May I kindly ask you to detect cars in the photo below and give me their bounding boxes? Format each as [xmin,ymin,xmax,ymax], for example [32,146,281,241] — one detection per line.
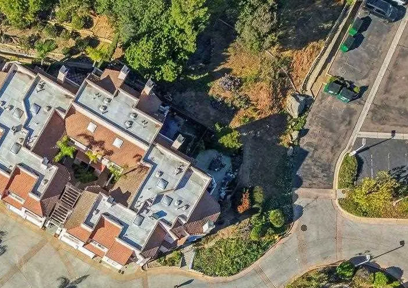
[364,0,401,24]
[388,0,408,13]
